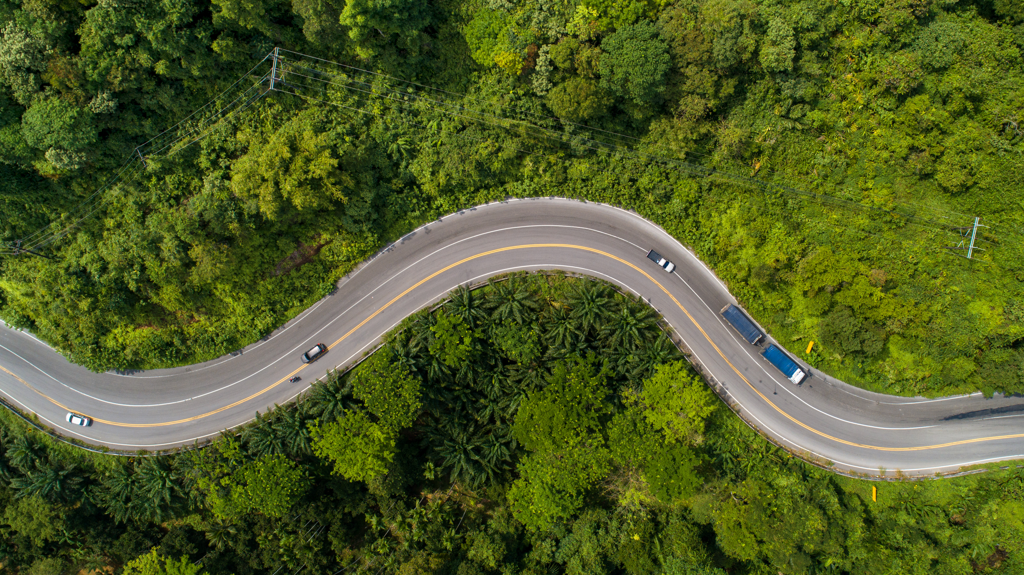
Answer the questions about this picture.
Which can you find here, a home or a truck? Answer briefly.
truck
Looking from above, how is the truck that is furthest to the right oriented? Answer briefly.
on a diagonal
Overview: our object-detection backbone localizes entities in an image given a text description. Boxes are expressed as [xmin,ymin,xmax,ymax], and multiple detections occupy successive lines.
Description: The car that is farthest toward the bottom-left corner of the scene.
[66,413,91,427]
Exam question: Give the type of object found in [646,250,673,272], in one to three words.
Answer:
truck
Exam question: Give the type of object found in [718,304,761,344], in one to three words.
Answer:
trailer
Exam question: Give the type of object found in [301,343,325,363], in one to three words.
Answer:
car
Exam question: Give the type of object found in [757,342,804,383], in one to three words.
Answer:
truck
